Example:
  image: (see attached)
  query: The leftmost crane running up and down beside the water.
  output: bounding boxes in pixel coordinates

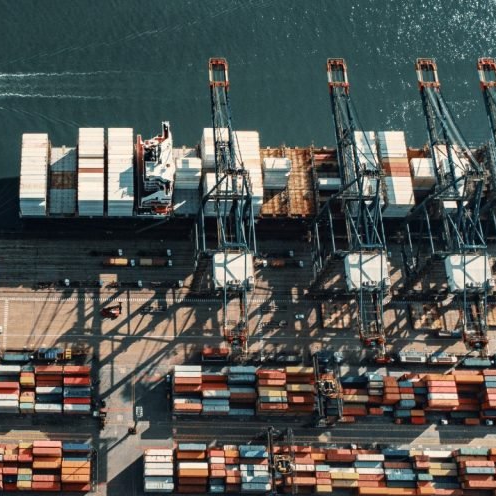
[182,58,258,353]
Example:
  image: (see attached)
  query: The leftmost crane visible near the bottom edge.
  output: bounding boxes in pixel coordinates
[256,433,302,496]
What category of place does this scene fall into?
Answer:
port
